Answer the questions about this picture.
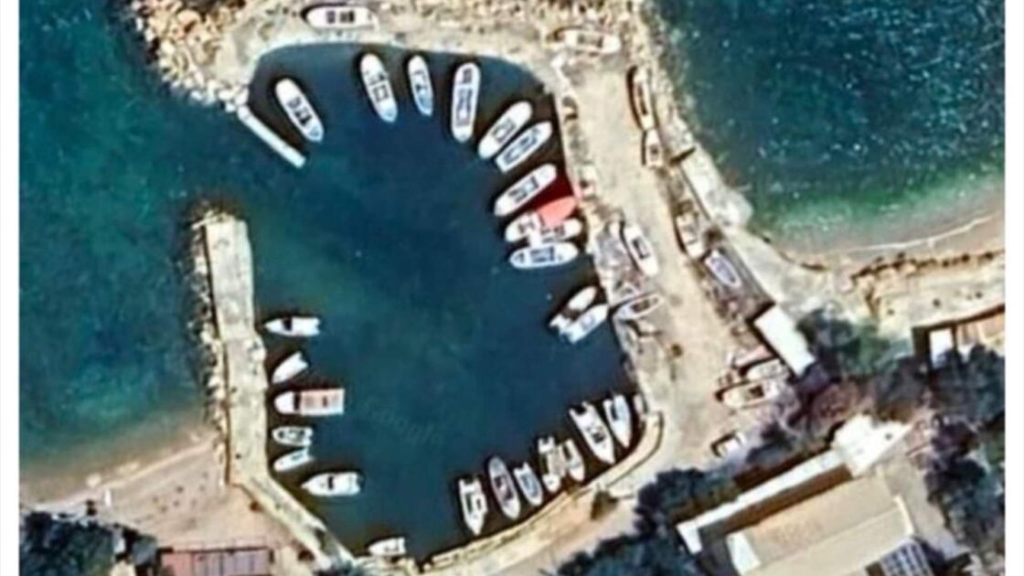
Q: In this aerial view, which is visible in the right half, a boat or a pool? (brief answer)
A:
boat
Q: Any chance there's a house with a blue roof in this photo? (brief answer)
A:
No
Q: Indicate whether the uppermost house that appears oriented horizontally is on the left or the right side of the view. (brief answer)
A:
right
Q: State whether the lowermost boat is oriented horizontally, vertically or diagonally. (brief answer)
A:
horizontally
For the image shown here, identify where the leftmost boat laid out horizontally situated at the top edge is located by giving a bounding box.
[306,4,377,28]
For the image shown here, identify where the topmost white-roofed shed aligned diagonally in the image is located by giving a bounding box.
[756,305,819,376]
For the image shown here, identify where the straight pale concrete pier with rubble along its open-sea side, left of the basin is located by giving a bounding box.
[206,222,358,576]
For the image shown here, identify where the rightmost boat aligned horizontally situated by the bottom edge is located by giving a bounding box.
[353,538,410,563]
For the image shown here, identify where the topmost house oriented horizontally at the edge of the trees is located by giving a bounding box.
[914,305,1024,368]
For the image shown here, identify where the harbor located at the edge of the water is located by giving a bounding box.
[237,35,662,576]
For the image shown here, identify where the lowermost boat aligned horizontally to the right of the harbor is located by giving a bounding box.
[722,379,781,408]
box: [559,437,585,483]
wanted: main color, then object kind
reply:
white boat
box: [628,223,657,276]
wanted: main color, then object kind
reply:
white boat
